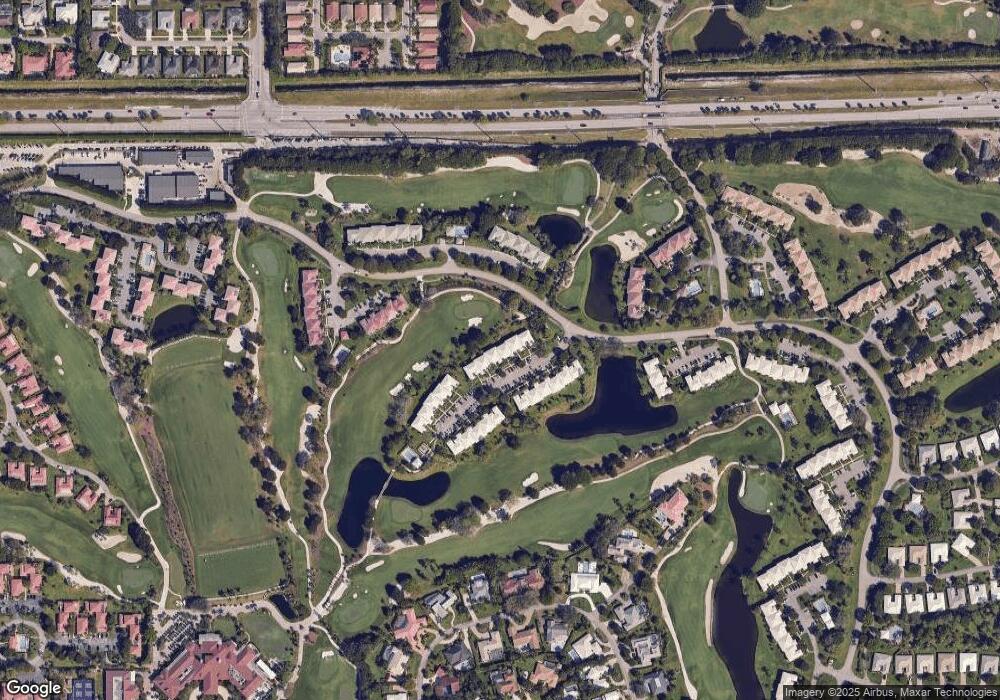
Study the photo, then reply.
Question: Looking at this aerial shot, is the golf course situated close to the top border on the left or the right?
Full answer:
It is on the right.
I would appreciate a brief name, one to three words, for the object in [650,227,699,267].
building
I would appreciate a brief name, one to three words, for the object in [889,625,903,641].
swimming pool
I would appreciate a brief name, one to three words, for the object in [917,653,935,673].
house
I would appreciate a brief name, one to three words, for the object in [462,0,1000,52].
golf course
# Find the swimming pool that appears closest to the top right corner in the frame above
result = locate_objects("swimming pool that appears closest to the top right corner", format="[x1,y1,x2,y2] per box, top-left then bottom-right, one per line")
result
[917,301,944,325]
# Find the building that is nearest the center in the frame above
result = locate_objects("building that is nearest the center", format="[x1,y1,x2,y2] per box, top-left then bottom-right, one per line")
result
[464,328,534,379]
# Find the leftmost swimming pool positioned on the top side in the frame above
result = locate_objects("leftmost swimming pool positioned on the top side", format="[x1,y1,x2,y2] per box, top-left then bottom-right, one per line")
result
[139,249,156,271]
